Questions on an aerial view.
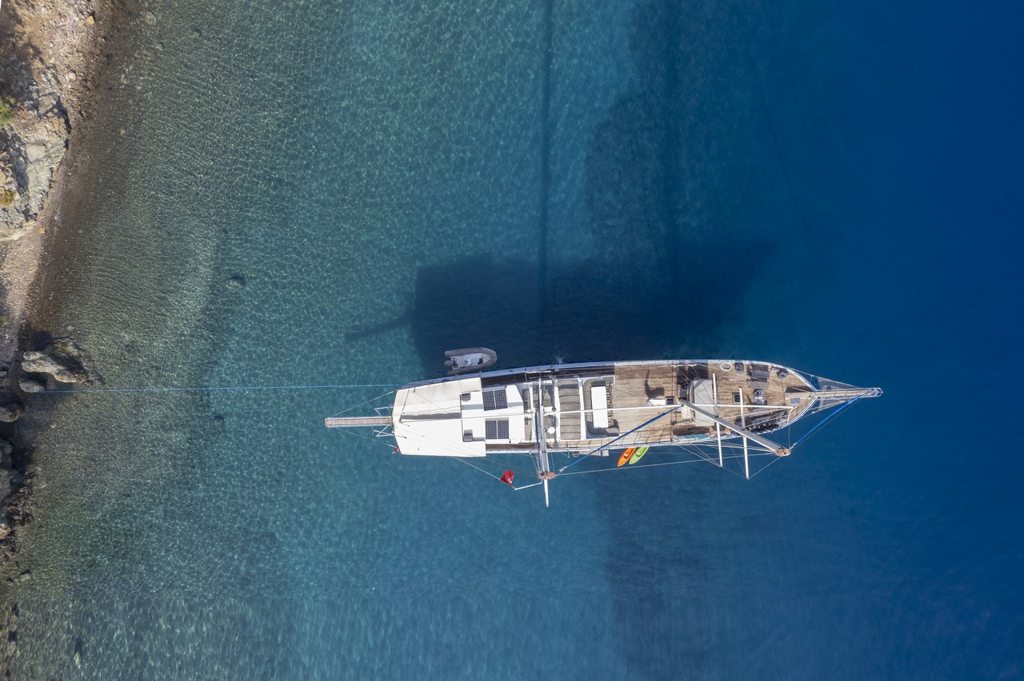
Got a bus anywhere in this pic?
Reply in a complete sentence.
No, the picture doesn't show any bus.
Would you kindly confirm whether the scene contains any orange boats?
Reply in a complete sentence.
Yes, this view includes an orange boat.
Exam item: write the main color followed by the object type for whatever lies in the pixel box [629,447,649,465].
green boat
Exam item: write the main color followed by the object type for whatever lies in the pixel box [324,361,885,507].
white boat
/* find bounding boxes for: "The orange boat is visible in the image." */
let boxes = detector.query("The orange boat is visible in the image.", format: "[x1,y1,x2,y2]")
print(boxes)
[618,448,636,467]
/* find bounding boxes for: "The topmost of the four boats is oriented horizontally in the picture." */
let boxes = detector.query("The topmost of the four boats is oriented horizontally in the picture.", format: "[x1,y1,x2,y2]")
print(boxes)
[444,346,498,375]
